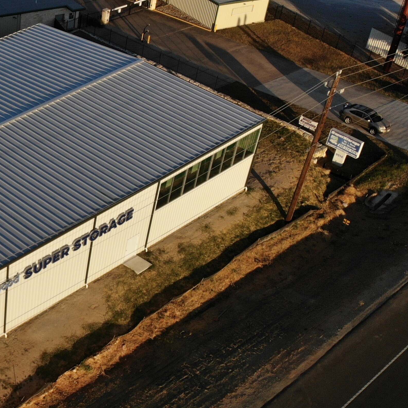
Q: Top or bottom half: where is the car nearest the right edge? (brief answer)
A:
top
